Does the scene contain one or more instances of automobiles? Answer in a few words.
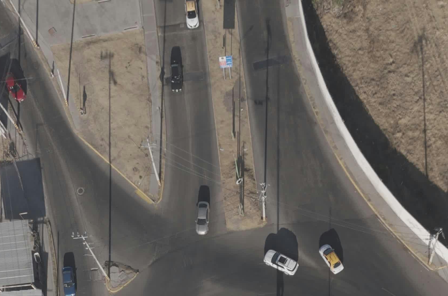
Yes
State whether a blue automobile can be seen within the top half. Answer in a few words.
No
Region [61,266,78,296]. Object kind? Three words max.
car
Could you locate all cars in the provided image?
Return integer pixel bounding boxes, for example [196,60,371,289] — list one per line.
[321,244,344,275]
[5,70,26,104]
[169,60,184,94]
[263,251,299,276]
[194,200,210,236]
[61,266,78,296]
[184,0,200,32]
